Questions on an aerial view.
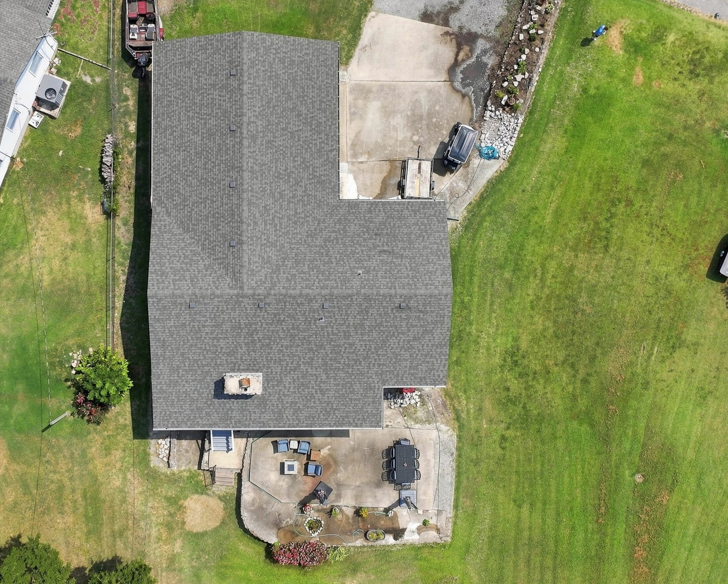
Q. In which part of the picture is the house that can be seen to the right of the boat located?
center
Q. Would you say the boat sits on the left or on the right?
left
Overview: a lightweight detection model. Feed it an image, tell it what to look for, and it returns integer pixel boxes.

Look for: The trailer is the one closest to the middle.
[401,145,436,197]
